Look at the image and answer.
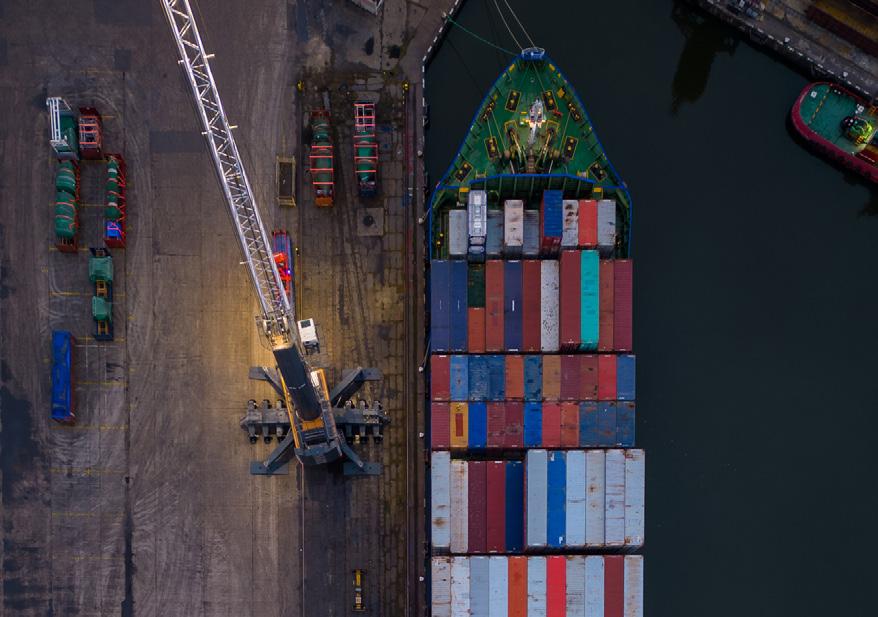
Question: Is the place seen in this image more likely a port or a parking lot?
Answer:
port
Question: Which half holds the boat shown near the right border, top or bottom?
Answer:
top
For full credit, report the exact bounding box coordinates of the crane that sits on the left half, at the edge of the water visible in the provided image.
[156,0,388,475]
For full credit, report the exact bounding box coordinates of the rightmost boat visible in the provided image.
[791,78,878,190]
